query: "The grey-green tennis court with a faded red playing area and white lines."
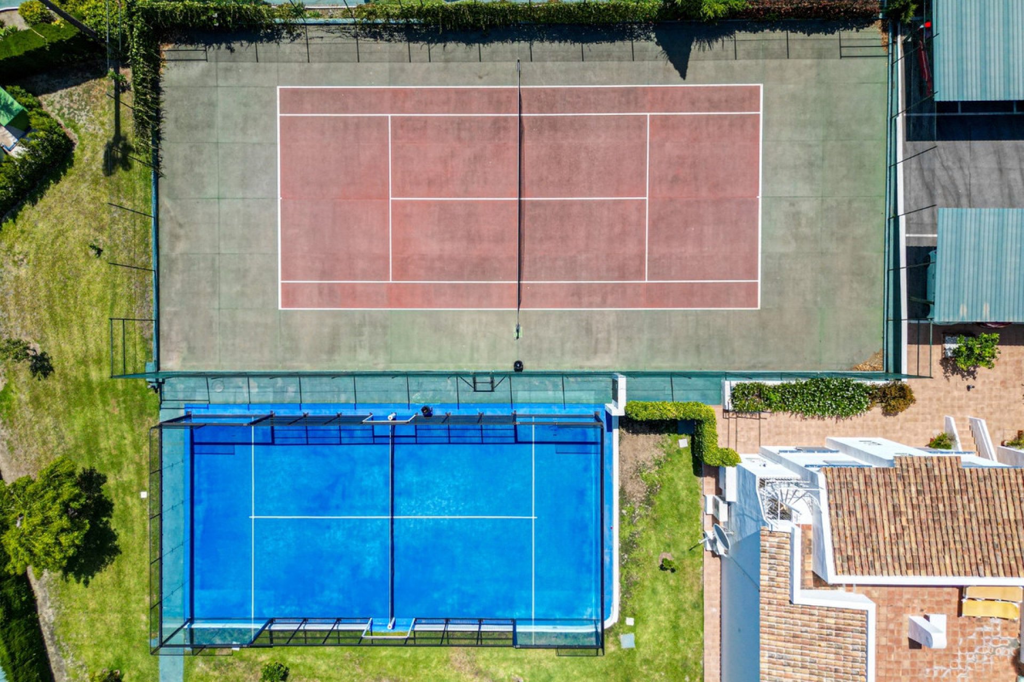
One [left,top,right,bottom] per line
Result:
[155,22,888,370]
